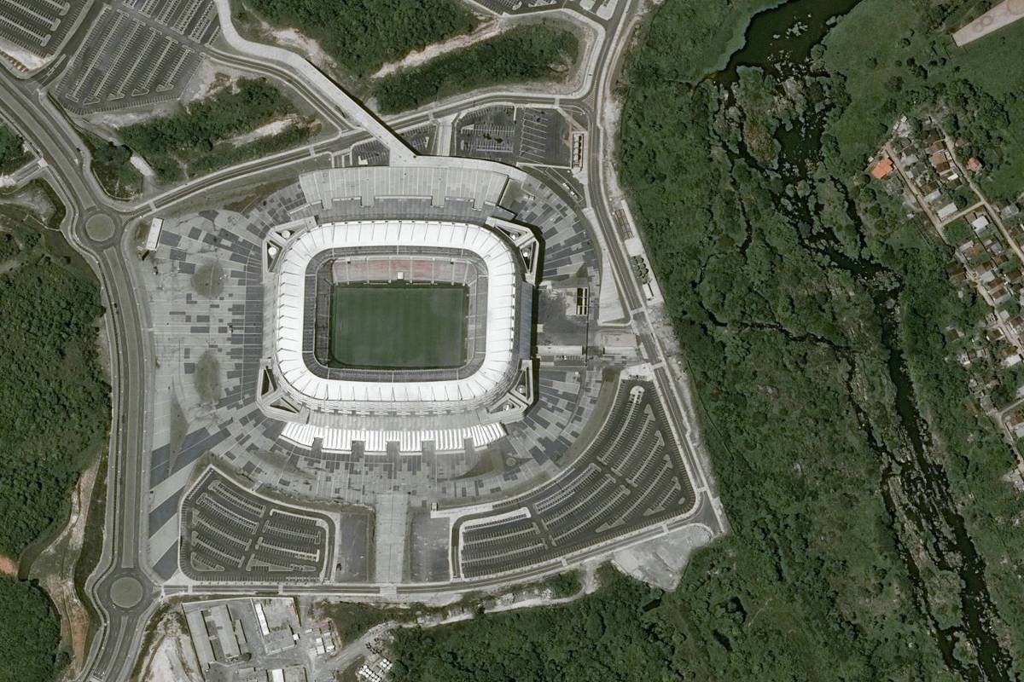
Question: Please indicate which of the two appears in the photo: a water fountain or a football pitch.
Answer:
football pitch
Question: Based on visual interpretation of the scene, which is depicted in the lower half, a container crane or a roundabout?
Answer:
roundabout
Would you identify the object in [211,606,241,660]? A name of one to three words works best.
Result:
building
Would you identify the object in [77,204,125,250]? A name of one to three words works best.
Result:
roundabout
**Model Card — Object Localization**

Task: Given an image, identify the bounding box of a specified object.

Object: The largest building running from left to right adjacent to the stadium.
[538,345,582,357]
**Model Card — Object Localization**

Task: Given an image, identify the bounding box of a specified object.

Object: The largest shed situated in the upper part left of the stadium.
[147,218,164,251]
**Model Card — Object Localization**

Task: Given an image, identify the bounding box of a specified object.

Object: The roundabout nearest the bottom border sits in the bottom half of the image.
[99,565,154,617]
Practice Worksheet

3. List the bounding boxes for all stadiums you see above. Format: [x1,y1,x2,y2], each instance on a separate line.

[257,166,541,456]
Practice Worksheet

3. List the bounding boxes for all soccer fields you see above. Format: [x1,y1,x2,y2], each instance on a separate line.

[330,285,471,370]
